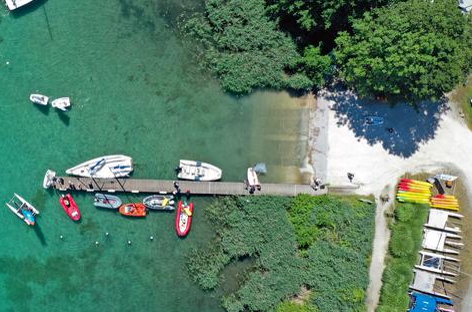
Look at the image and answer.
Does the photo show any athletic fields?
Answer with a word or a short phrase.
No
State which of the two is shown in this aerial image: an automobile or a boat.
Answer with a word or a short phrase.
boat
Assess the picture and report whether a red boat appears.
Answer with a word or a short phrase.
Yes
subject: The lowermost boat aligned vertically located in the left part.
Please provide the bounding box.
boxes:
[177,199,195,237]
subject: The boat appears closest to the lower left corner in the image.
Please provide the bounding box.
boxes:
[6,193,40,225]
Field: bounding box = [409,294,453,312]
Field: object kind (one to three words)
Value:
boat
